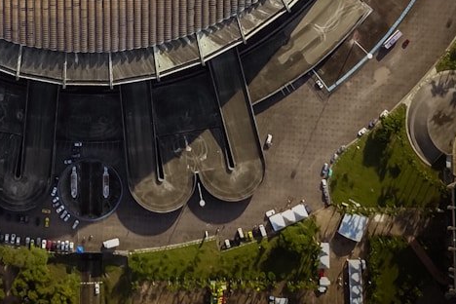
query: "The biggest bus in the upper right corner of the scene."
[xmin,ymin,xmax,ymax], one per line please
[382,27,402,50]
